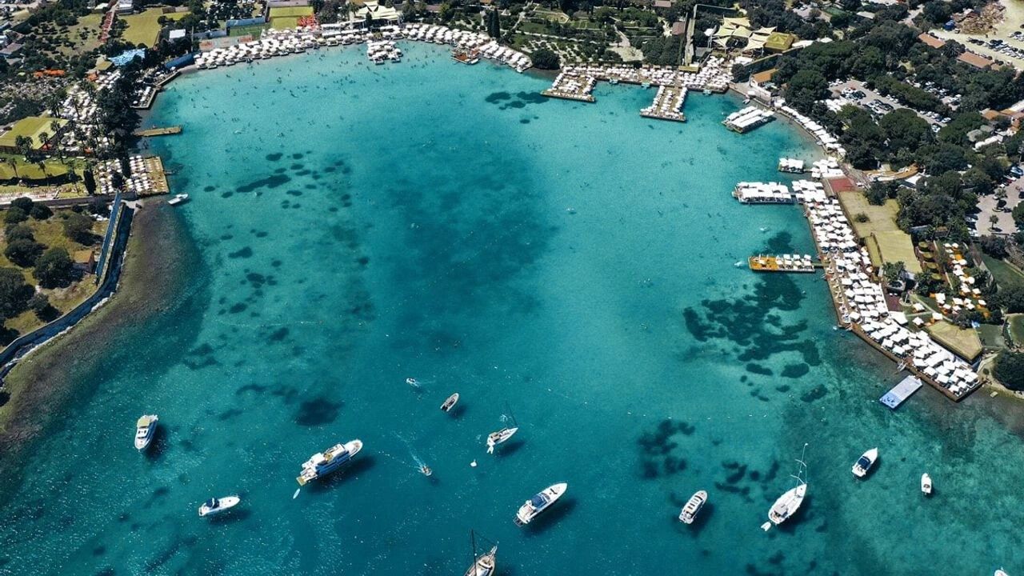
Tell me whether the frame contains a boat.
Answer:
Yes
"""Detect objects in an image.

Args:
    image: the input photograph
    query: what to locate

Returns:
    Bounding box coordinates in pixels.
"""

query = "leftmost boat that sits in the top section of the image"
[168,194,188,206]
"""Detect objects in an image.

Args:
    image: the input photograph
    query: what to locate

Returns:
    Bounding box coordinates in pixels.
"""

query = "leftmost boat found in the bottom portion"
[137,411,160,451]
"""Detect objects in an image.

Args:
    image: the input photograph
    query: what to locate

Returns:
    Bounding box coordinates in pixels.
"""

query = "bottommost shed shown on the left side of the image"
[74,246,94,270]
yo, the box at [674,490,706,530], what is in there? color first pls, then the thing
white boat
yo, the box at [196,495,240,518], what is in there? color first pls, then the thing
white boat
